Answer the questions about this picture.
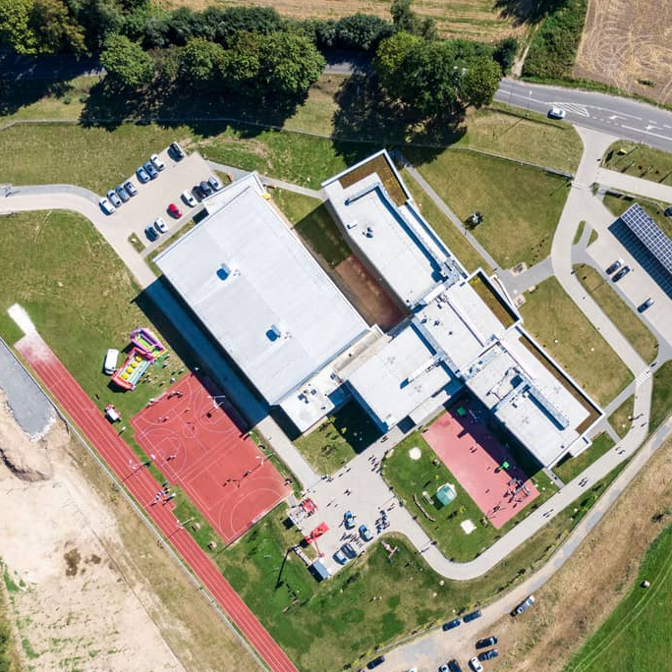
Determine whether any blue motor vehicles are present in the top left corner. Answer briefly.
Yes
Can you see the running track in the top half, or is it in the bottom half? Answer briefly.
bottom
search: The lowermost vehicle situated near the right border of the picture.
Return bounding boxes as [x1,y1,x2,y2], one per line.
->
[638,298,654,312]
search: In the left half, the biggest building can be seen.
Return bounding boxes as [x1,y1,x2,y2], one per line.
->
[153,171,373,405]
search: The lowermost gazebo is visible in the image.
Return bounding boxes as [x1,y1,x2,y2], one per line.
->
[437,484,456,505]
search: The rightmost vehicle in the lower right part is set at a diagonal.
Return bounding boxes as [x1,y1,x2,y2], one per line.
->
[512,597,533,616]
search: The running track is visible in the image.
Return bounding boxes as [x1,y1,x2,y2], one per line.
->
[15,333,299,672]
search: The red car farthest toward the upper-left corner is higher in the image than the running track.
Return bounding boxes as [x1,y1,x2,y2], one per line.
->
[167,203,183,219]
